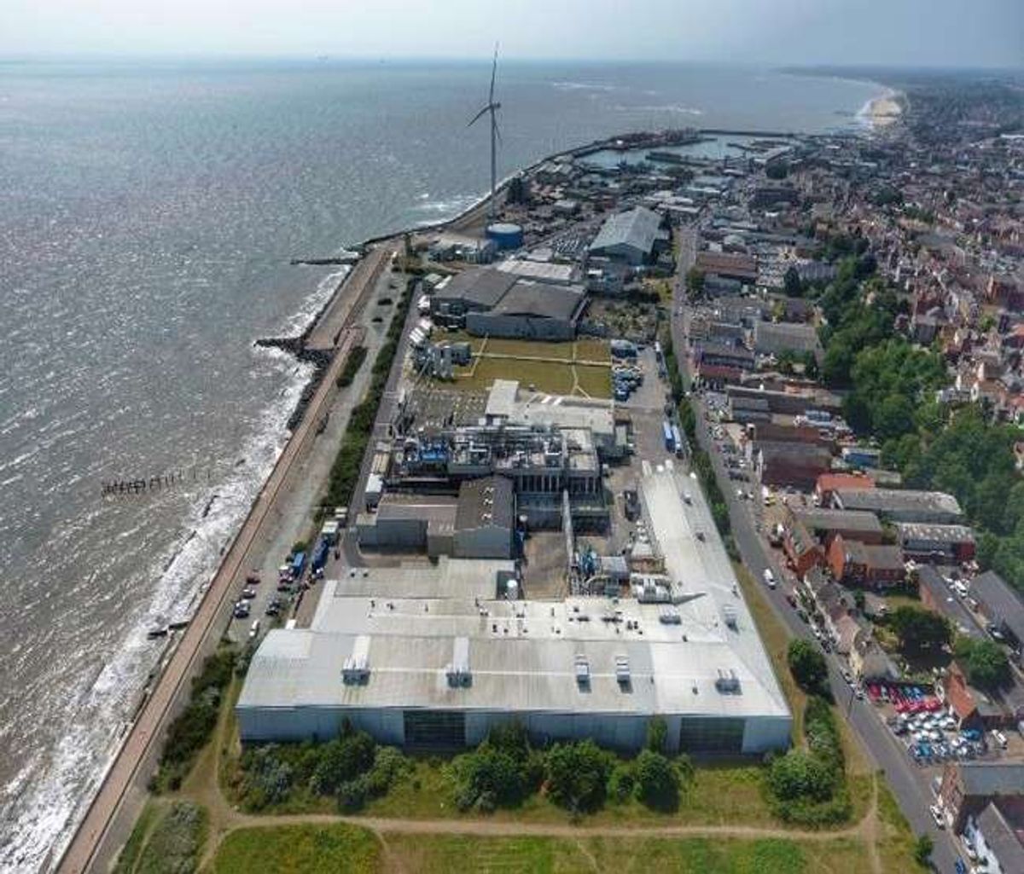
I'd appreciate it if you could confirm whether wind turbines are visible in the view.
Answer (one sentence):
Yes, the photo shows a wind turbine.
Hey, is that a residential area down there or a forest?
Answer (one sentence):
The picture captures a residential area.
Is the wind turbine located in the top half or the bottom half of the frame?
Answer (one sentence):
Seen from above, the wind turbine lies in the top half of the view.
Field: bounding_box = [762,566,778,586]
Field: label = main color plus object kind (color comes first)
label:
white vehicle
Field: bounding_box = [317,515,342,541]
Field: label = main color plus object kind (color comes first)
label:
white vehicle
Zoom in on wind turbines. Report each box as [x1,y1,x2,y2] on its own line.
[465,41,502,226]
